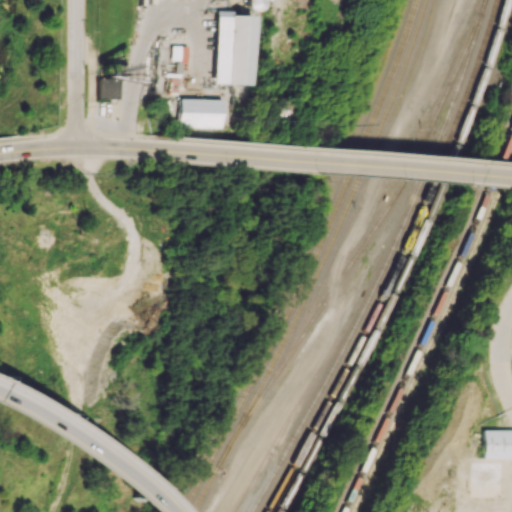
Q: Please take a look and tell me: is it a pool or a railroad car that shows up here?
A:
railroad car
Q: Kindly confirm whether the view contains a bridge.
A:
Yes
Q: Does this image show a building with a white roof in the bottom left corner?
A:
No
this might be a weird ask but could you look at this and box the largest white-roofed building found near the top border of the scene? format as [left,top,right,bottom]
[218,16,262,86]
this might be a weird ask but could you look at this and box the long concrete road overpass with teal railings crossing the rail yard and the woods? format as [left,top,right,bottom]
[109,134,512,187]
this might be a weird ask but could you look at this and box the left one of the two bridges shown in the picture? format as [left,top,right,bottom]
[0,372,196,512]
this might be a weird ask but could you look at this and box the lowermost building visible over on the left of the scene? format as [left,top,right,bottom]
[180,98,226,130]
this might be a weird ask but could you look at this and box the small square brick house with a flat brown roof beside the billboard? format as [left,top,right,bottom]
[98,77,122,100]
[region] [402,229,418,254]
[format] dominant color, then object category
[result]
yellow rail car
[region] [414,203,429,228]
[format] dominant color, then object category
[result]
yellow rail car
